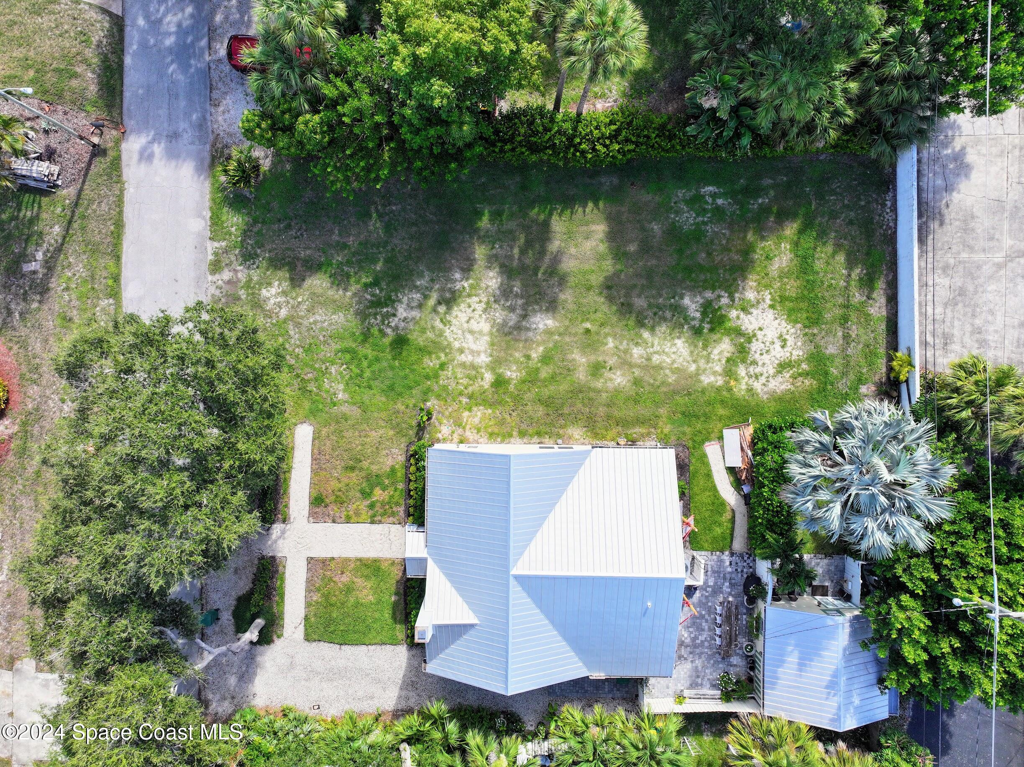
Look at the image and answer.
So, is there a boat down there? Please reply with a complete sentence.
No, there appears to be no boat in this shot.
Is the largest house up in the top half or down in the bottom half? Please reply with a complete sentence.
It is in the bottom half that the largest house appears.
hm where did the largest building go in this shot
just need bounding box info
[415,440,686,695]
